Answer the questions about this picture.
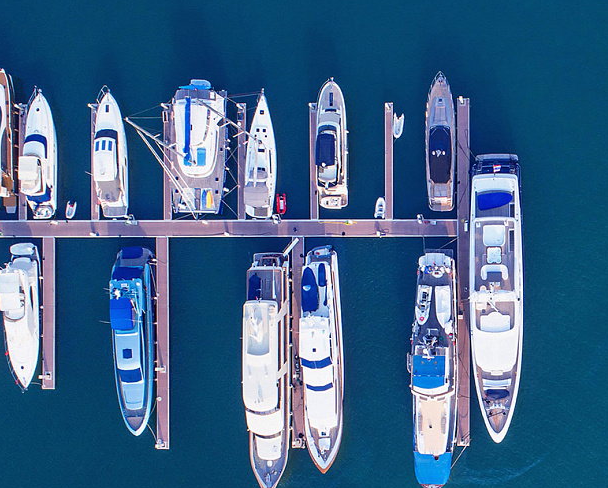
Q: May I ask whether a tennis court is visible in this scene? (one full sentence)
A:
No, I can't see a single tennis court in this photo.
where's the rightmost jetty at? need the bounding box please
[457,97,470,446]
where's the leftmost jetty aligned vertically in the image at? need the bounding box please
[18,103,30,220]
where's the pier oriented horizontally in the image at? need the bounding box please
[0,220,457,238]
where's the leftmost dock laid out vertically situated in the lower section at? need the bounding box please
[42,237,58,389]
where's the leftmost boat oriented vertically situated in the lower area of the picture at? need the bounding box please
[0,244,46,392]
